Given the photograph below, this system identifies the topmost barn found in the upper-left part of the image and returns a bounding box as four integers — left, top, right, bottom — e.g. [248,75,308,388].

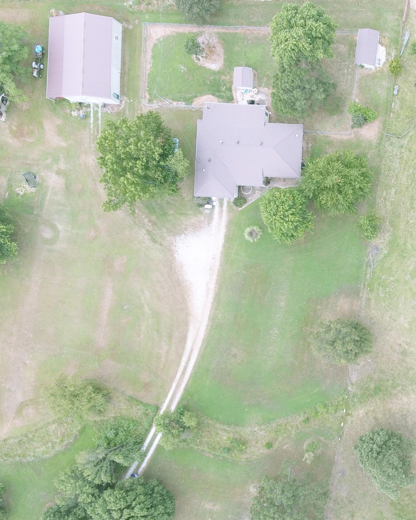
[46,12,121,103]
